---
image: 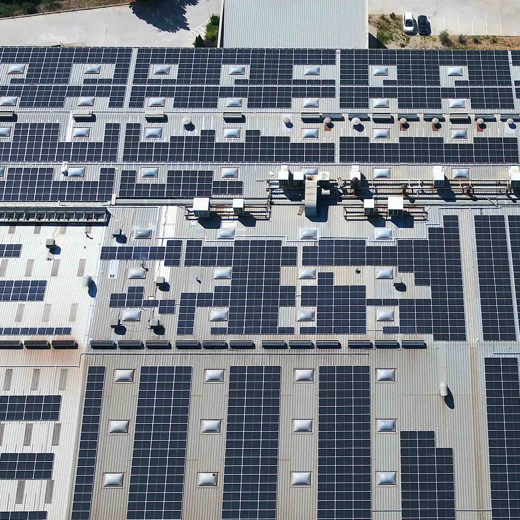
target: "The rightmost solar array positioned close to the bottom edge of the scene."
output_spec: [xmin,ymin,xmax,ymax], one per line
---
[484,356,520,520]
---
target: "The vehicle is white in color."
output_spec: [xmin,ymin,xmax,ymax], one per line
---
[402,13,416,36]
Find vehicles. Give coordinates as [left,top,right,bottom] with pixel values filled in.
[416,15,430,37]
[402,13,416,36]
